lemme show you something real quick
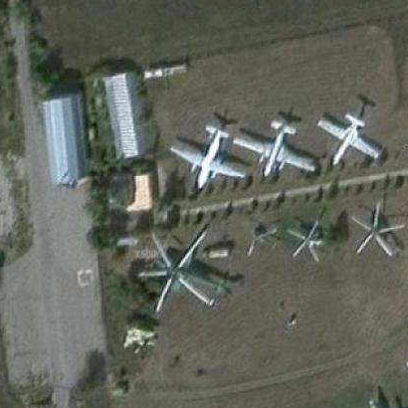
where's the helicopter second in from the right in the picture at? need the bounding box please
[290,220,334,263]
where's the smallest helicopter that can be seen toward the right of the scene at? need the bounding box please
[245,222,278,255]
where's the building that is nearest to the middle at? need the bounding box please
[127,174,158,216]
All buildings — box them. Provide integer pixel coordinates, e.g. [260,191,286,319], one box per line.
[127,174,158,216]
[42,93,93,186]
[102,71,154,161]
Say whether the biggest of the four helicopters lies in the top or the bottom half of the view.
bottom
